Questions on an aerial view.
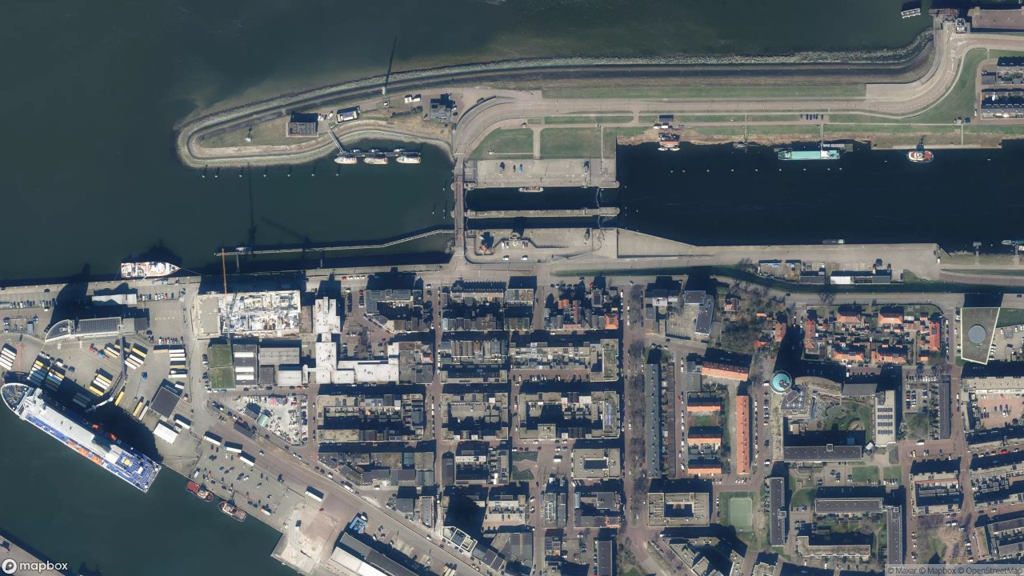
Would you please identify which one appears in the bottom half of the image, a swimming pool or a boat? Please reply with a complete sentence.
You can see a boat in the bottom half of the image.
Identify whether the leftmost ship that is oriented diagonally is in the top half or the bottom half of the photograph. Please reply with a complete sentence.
The leftmost ship that is oriented diagonally sits in the bottom half of the picture.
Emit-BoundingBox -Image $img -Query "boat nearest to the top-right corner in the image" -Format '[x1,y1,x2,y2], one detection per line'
[908,150,934,162]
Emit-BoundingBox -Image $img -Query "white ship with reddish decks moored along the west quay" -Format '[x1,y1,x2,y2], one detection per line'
[121,262,180,284]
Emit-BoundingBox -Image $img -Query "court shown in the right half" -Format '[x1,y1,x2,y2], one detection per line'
[730,498,752,532]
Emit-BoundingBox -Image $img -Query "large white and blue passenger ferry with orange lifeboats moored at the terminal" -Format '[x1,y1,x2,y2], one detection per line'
[0,383,161,492]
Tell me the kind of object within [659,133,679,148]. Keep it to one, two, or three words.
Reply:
boat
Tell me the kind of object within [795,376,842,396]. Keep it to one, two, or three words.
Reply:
house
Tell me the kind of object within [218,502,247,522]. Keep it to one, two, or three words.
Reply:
boat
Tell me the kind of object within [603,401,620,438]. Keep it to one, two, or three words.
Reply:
building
